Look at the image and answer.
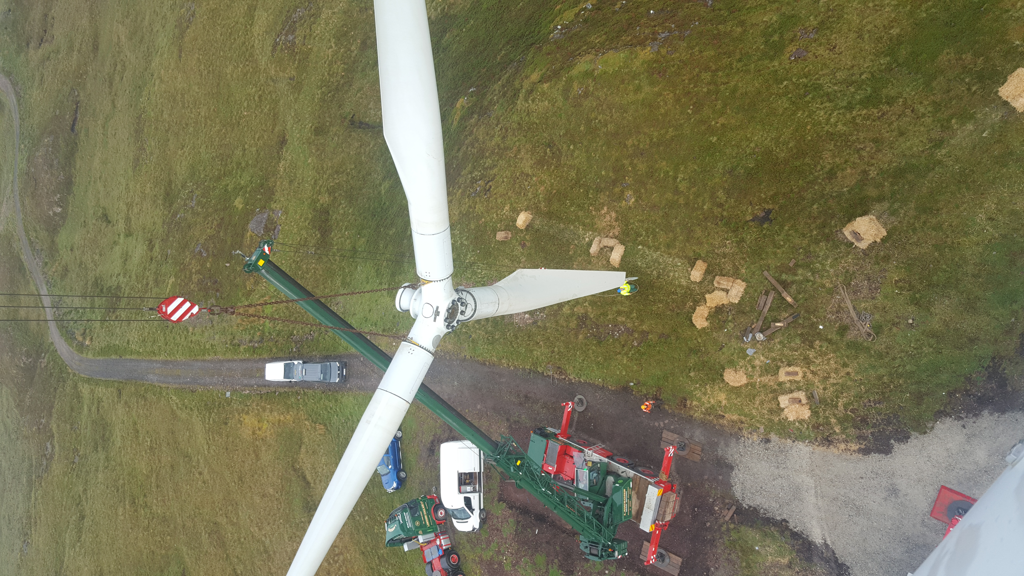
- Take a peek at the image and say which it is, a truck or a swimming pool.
truck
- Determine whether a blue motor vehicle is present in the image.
Yes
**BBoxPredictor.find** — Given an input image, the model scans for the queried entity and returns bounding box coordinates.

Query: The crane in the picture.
[218,242,685,565]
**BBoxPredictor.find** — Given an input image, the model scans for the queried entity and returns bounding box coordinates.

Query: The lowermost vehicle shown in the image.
[387,493,464,576]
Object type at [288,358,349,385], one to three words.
vehicle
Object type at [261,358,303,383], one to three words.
vehicle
